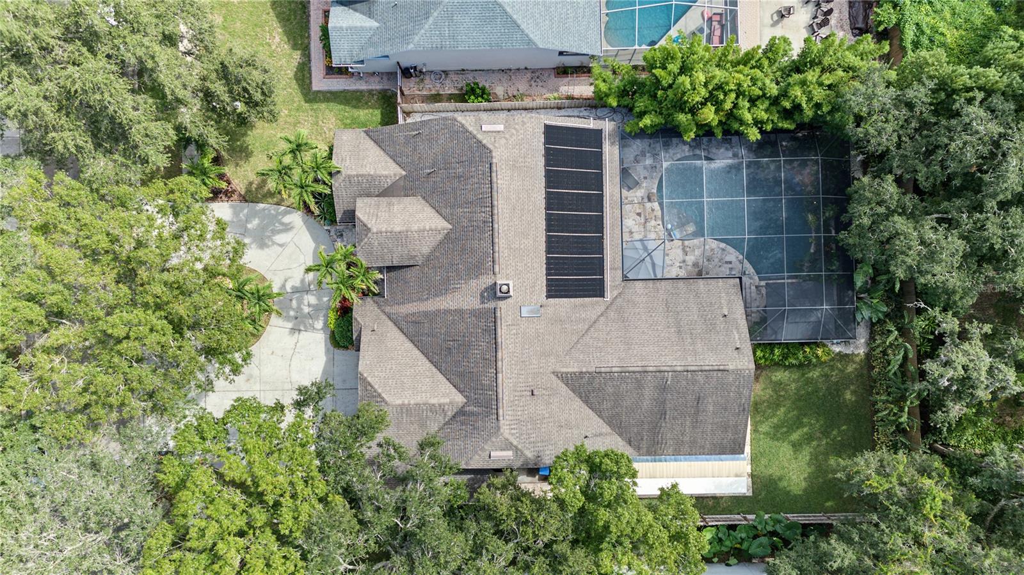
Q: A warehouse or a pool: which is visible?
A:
pool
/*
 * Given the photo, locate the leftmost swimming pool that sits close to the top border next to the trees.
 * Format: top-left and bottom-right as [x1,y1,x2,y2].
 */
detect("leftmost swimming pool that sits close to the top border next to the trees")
[603,0,703,56]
